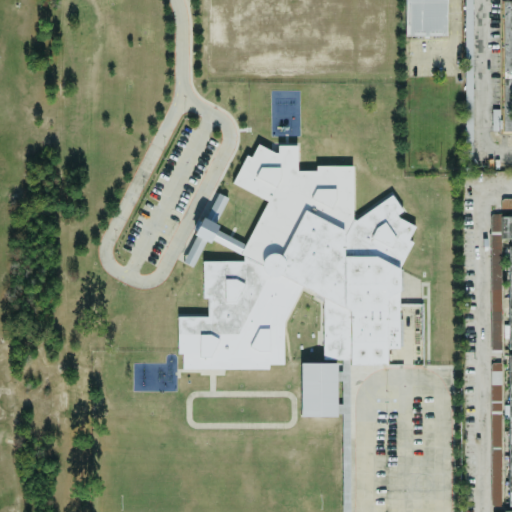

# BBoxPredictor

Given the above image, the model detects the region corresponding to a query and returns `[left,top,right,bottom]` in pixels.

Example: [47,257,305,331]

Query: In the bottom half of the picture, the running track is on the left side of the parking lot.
[186,391,298,429]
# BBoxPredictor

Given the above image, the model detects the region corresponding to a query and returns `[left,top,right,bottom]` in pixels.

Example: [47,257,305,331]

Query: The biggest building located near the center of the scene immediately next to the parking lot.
[178,144,418,370]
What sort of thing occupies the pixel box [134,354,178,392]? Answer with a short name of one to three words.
playground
